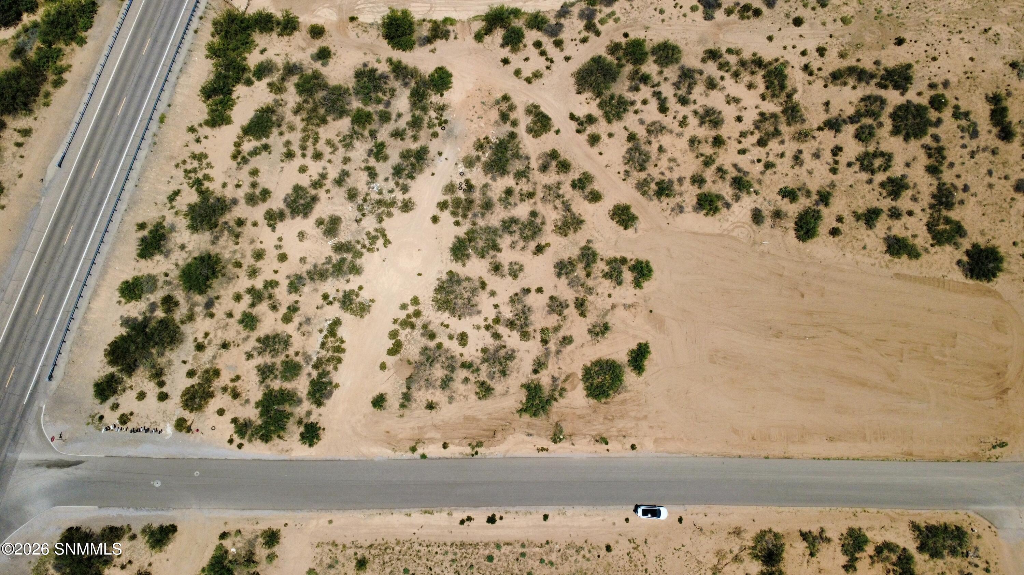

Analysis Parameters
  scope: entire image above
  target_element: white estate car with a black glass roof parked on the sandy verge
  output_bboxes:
[635,505,667,521]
